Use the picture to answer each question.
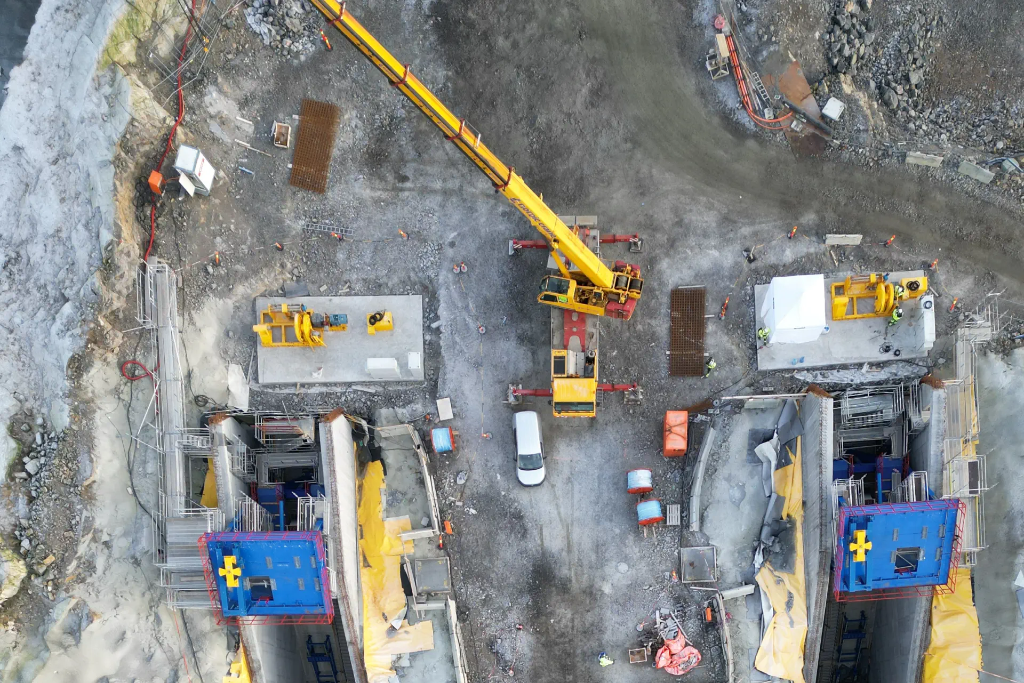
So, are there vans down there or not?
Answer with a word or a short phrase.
Yes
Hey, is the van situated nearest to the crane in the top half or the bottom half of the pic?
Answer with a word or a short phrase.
bottom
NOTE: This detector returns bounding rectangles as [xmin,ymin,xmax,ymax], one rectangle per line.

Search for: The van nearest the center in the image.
[512,407,550,490]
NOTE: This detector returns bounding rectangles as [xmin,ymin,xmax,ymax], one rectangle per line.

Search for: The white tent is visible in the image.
[760,274,826,345]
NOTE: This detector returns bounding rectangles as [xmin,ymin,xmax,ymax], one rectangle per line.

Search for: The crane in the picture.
[304,0,647,418]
